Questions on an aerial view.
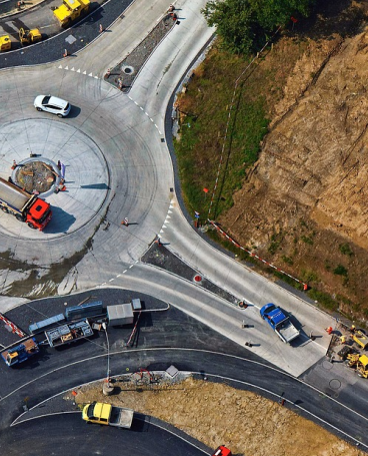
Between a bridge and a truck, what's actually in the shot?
truck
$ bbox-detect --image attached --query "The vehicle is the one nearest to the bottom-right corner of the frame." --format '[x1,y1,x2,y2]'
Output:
[335,346,368,377]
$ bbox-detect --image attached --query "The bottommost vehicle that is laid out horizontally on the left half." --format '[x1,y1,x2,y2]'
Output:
[81,401,136,430]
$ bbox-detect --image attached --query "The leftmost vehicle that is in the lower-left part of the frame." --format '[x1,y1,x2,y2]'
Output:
[0,334,42,363]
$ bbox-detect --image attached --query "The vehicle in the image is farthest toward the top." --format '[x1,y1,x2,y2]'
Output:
[54,0,93,29]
